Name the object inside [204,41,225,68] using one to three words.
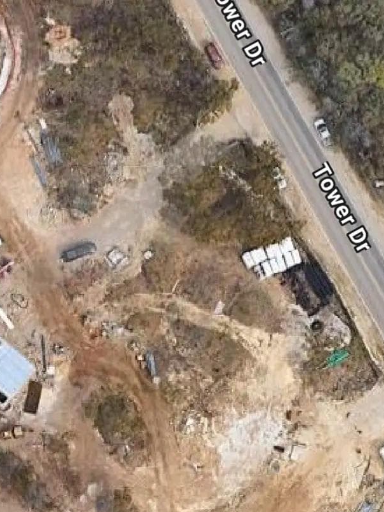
car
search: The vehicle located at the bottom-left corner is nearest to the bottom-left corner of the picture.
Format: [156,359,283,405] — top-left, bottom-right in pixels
[0,426,22,442]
